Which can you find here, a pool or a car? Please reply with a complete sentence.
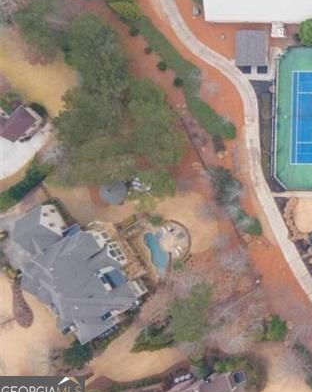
The one in the frame is a pool.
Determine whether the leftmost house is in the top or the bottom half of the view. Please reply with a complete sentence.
The leftmost house sits in the top half of the picture.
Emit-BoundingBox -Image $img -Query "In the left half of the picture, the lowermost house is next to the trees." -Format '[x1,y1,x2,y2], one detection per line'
[11,207,168,342]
